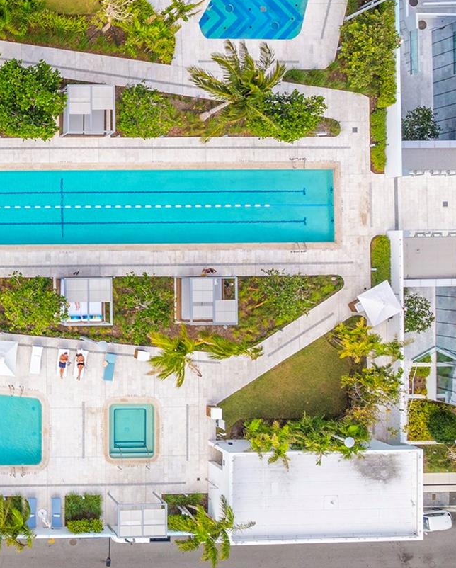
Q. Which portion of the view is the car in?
bottom right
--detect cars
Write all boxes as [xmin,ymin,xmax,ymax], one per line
[425,509,455,533]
